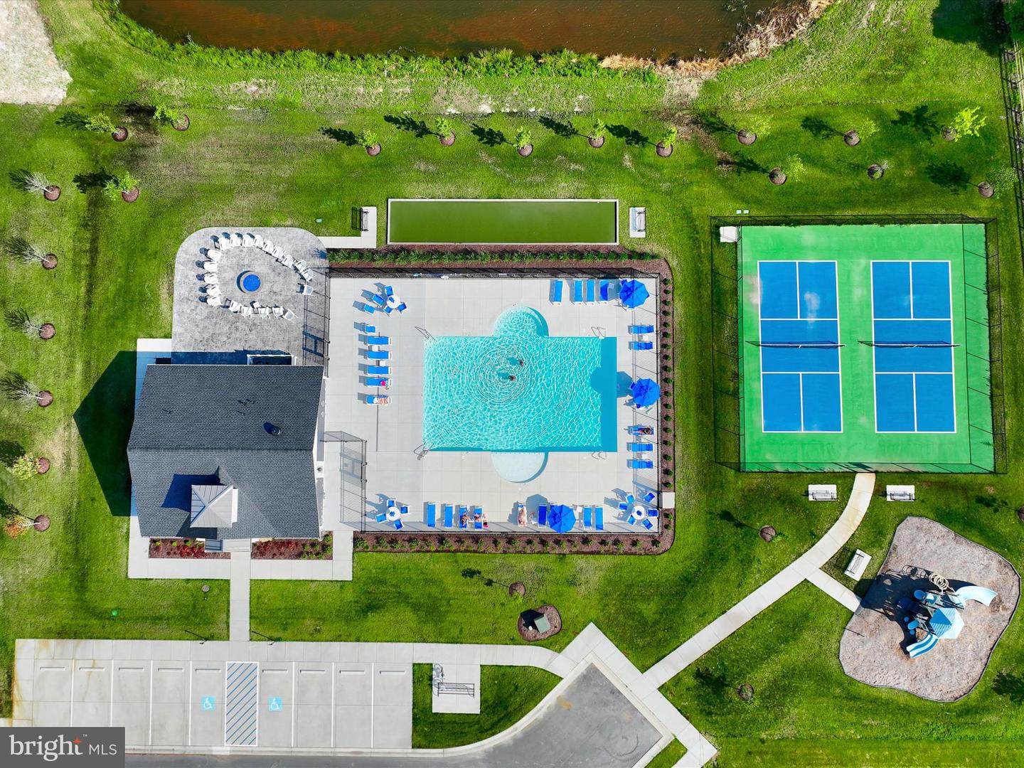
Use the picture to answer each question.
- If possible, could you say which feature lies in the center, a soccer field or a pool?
pool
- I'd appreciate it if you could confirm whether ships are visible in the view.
No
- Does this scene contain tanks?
No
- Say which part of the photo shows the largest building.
left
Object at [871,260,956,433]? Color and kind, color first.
blue sports court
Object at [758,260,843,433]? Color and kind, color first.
blue sports court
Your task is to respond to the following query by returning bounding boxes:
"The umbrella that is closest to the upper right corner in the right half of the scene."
[618,279,648,309]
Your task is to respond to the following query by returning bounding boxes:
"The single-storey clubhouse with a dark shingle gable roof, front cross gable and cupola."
[127,352,328,552]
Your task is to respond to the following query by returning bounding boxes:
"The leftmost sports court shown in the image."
[388,199,619,245]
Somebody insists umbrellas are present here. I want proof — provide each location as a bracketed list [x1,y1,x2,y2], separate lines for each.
[628,377,659,408]
[547,504,576,533]
[618,279,648,309]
